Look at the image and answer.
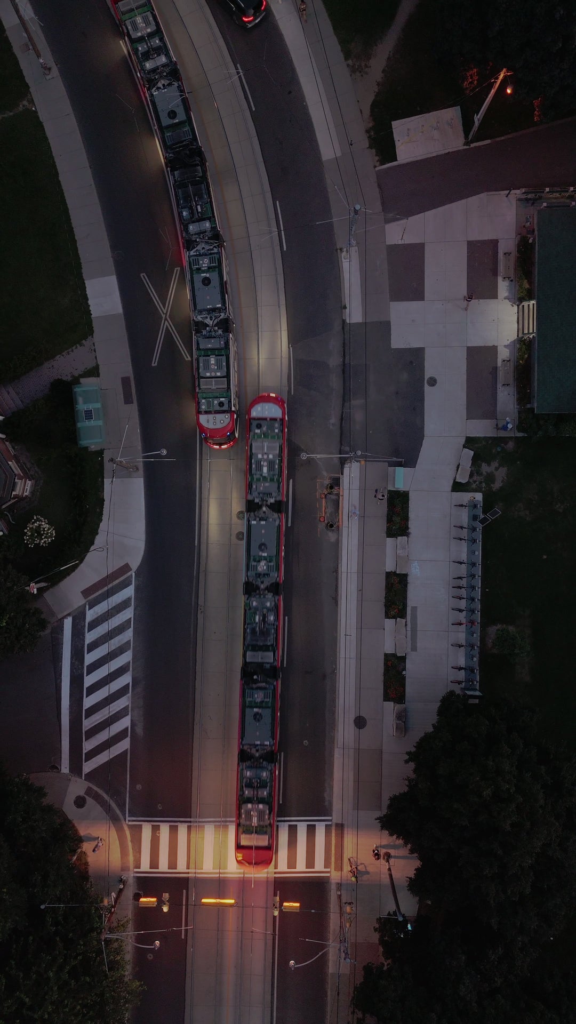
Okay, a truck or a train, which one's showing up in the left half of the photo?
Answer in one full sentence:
You can see a train in the left half of the photo.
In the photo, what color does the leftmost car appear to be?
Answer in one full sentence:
In this view, the leftmost car is black.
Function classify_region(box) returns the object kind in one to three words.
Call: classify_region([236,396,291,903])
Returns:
train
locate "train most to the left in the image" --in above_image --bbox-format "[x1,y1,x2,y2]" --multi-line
[111,0,241,447]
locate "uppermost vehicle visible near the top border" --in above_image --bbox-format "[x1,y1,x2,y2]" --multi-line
[227,0,267,29]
